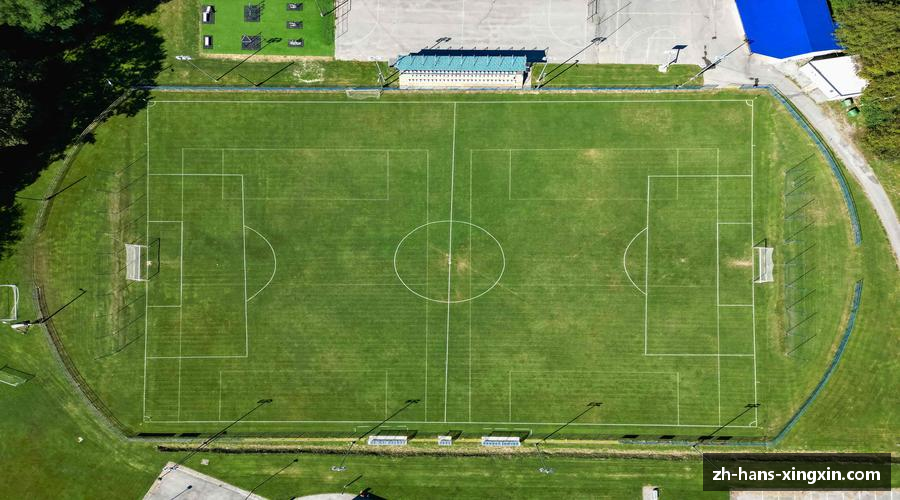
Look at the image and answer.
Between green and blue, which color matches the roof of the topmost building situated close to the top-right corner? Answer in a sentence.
From above, the roof of the topmost building situated close to the top-right corner appears blue.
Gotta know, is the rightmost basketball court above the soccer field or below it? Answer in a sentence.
Looking at the photo, you'll find the rightmost basketball court above the soccer field.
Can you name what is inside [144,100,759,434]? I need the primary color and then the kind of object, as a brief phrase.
green soccer field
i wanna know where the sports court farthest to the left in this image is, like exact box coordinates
[337,0,586,61]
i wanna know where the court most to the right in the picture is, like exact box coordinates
[605,0,722,62]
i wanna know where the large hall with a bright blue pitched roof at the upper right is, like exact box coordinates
[730,0,843,63]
